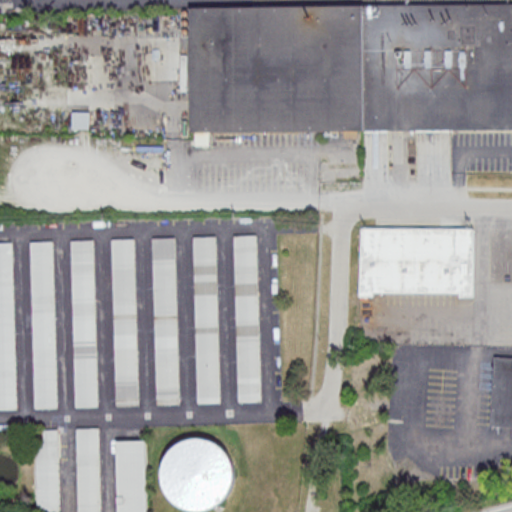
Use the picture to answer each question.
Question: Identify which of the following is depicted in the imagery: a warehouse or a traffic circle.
warehouse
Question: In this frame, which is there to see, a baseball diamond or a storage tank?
storage tank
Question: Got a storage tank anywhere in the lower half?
Yes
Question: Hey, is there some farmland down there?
No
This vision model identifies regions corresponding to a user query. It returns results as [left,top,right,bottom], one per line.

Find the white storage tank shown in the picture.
[158,436,234,512]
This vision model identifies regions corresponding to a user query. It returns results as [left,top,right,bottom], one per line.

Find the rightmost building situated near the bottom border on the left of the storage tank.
[111,438,148,512]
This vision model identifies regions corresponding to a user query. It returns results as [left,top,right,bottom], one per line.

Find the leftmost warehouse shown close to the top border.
[188,7,363,132]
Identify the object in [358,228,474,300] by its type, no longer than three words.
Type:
building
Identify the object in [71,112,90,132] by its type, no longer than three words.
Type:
shed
